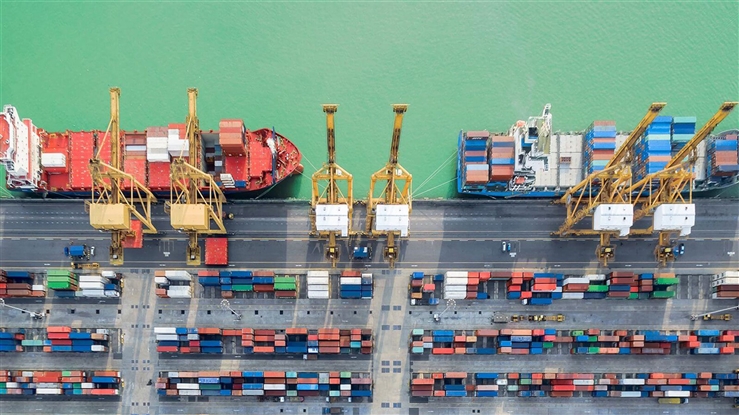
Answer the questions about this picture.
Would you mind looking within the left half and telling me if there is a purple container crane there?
No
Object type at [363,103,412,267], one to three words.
container crane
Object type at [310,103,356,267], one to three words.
container crane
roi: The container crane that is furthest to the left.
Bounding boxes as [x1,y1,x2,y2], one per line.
[89,87,158,267]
